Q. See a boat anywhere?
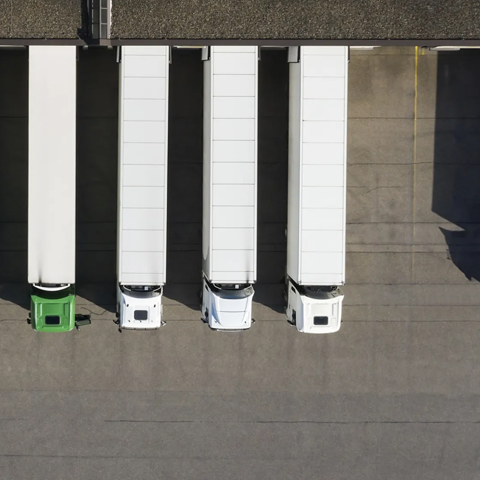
No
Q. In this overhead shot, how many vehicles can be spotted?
4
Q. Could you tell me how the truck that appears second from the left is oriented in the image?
vertically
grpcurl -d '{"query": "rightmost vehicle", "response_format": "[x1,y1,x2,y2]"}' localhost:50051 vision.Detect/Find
[281,45,350,334]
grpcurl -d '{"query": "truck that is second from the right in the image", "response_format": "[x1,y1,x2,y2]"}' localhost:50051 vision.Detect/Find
[197,45,261,333]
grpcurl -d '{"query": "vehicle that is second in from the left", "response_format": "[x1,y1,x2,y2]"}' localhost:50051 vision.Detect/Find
[112,45,172,338]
